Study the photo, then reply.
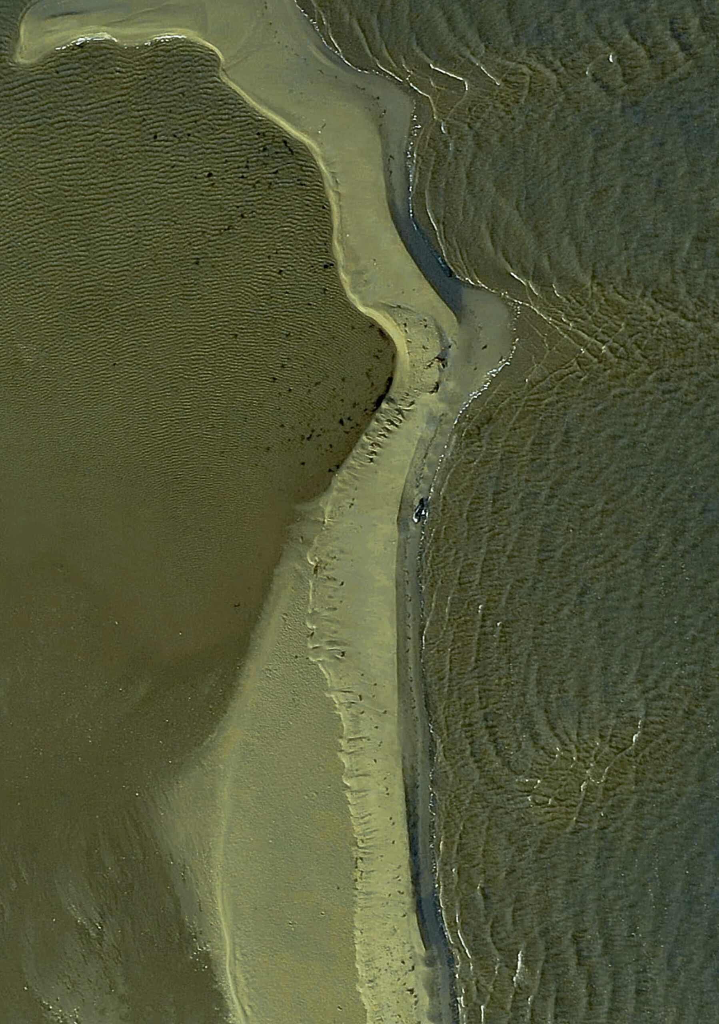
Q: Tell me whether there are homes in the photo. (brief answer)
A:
No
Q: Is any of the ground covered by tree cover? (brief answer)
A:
No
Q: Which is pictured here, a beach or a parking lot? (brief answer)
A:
beach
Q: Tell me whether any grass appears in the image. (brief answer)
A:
No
